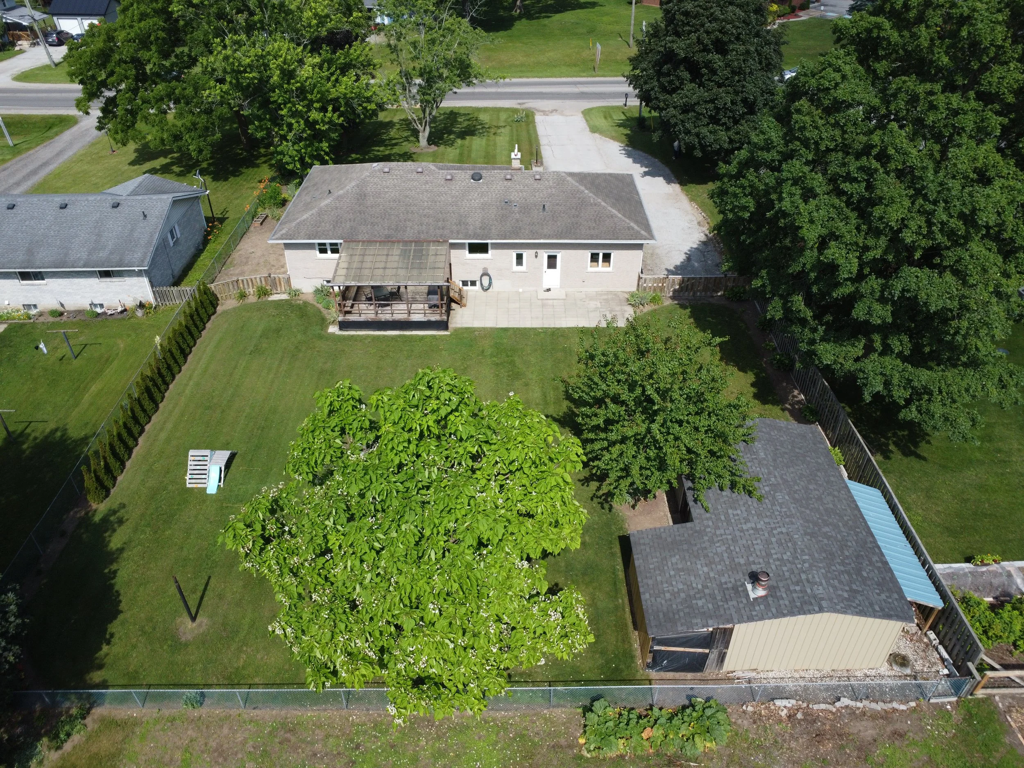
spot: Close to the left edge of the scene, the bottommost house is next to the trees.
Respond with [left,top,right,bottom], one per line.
[0,171,208,305]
